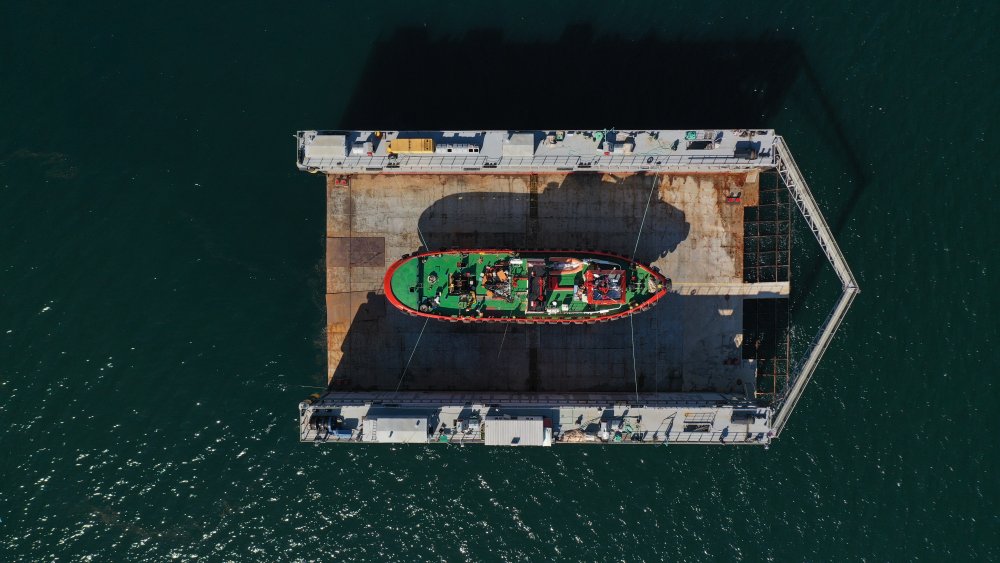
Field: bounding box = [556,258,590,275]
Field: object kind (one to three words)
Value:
boat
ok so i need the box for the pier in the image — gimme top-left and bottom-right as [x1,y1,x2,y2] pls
[296,131,793,444]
